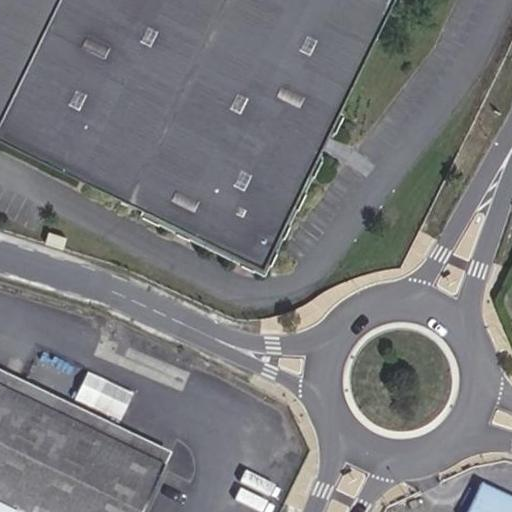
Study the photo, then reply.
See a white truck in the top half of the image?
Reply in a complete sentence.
No, I can find no white truck in the top half of the image.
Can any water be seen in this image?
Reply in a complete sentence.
No, the scene doesn't show any water.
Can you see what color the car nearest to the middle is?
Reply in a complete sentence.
In this view, the car nearest to the middle is black.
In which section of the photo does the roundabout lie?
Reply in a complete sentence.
The roundabout is in the bottom right part of the image.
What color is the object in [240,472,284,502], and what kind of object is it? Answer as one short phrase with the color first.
white truck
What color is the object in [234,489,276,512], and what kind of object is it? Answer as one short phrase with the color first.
white truck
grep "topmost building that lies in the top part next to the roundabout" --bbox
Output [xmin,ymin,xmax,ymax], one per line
[0,0,398,276]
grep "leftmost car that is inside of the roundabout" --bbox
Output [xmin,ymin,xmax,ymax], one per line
[350,314,370,334]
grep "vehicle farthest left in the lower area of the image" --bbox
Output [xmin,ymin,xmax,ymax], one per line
[163,486,186,502]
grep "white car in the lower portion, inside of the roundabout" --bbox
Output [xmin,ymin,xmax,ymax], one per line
[428,318,448,336]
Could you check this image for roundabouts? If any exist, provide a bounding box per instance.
[300,280,504,482]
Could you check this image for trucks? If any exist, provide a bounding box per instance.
[234,489,276,512]
[240,472,284,502]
